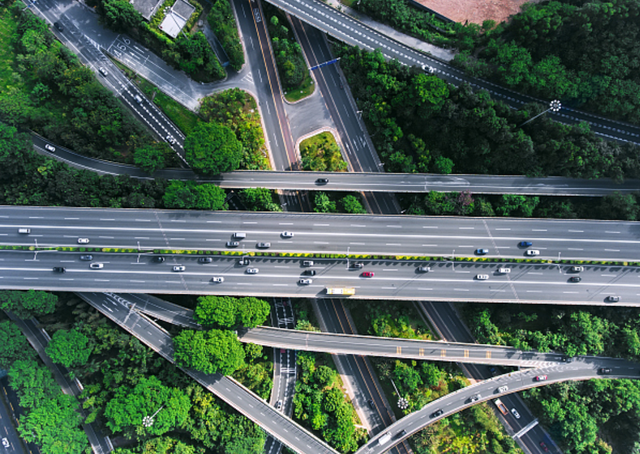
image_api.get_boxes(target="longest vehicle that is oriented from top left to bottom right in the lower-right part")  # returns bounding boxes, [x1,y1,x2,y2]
[494,398,509,416]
